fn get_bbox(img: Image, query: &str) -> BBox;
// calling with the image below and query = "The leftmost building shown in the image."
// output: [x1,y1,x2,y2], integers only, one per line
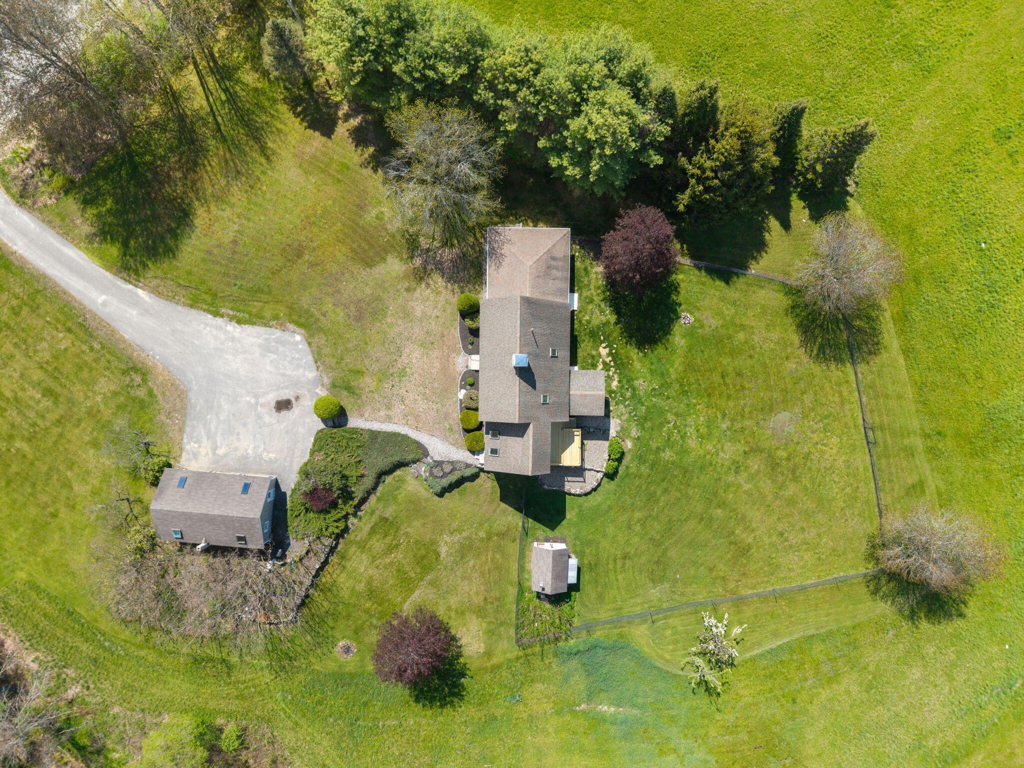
[150,467,278,553]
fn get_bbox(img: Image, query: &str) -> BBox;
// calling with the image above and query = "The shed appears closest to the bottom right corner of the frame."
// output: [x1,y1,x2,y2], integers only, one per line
[533,538,570,598]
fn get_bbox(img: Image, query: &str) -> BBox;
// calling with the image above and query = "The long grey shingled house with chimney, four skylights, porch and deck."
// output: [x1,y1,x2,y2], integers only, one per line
[470,227,606,475]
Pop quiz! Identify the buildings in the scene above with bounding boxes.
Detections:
[533,538,570,598]
[150,467,278,553]
[470,227,606,475]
